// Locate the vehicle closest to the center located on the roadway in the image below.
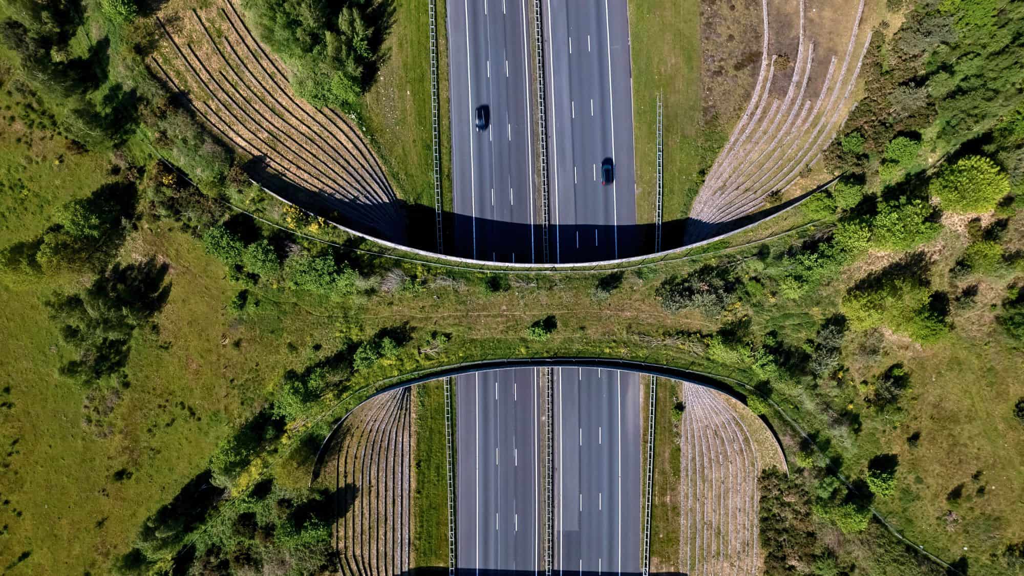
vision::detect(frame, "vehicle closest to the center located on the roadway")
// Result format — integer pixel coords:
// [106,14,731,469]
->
[600,161,613,187]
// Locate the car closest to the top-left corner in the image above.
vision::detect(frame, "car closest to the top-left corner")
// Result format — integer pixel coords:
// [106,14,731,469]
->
[474,105,487,132]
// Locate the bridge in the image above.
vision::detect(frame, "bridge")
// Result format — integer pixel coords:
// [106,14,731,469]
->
[249,173,845,487]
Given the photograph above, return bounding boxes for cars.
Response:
[474,105,487,132]
[600,161,613,187]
